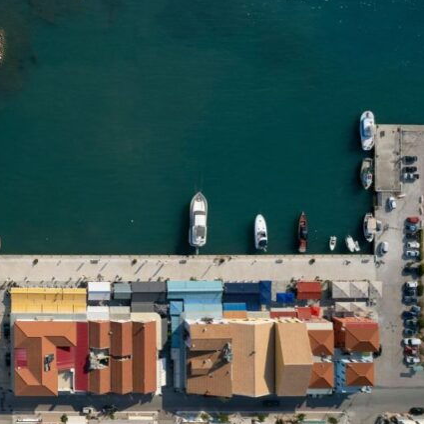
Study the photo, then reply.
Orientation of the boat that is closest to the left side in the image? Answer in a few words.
from top to bottom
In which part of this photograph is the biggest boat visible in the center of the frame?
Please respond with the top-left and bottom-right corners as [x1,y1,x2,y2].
[187,192,208,256]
